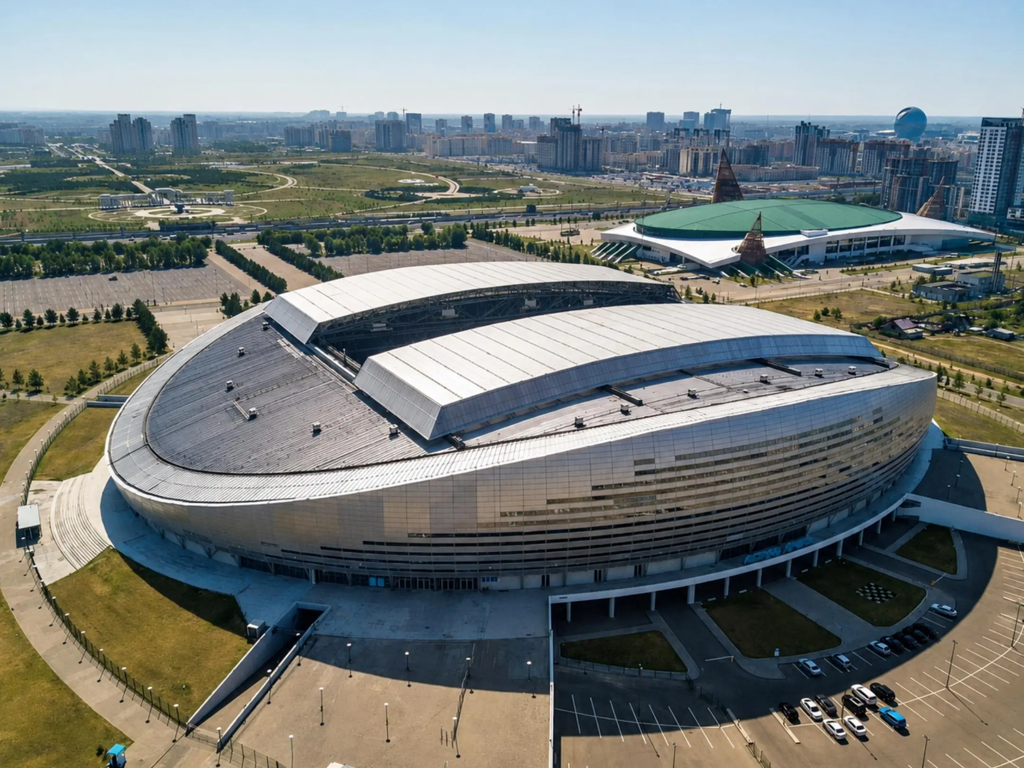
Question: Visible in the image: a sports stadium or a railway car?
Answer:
sports stadium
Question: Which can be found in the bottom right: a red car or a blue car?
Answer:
blue car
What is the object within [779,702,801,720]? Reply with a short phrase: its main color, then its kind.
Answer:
black car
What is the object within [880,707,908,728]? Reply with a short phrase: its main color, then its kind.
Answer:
blue car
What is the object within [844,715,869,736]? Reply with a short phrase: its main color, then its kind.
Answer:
white car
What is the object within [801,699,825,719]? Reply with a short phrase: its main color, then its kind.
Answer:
white car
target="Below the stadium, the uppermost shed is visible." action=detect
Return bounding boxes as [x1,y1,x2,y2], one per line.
[245,616,265,638]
